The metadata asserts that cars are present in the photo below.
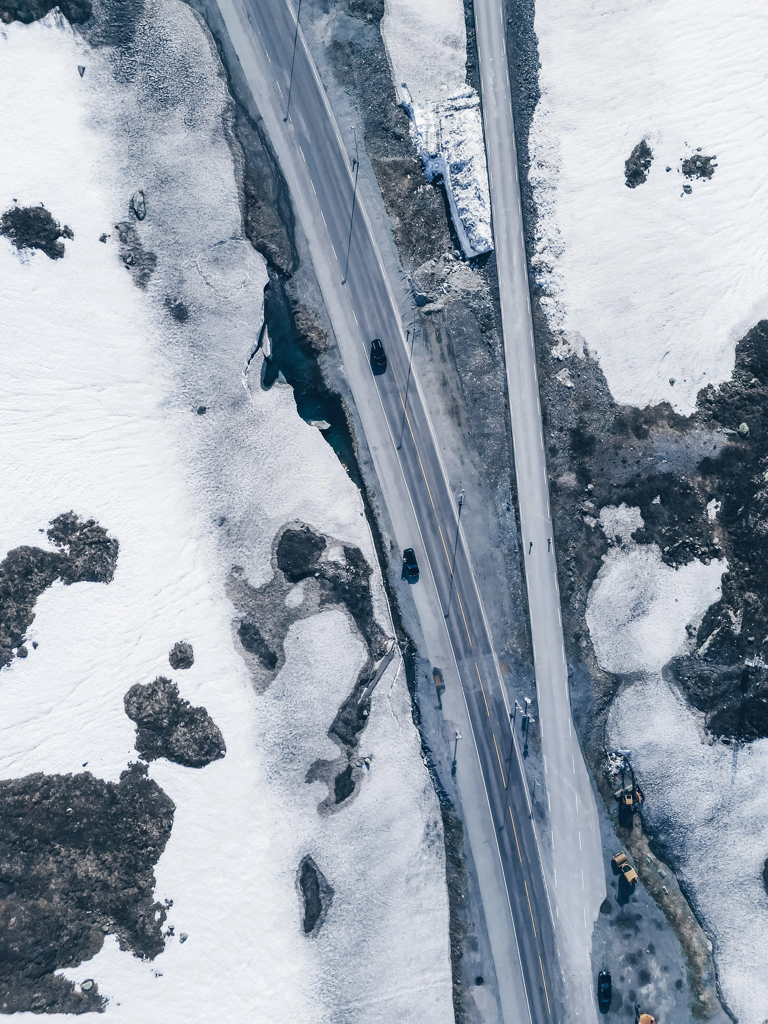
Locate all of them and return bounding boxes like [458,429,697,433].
[401,548,419,576]
[373,337,388,366]
[597,972,612,1003]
